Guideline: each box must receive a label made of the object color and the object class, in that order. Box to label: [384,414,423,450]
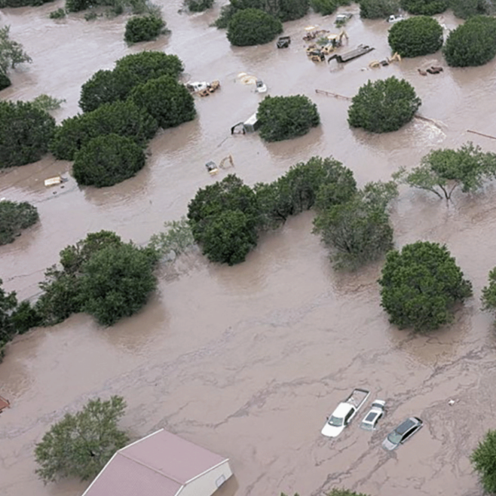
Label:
gray car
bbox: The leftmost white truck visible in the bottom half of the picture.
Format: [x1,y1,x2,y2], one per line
[324,389,368,435]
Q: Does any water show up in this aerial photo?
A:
Yes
